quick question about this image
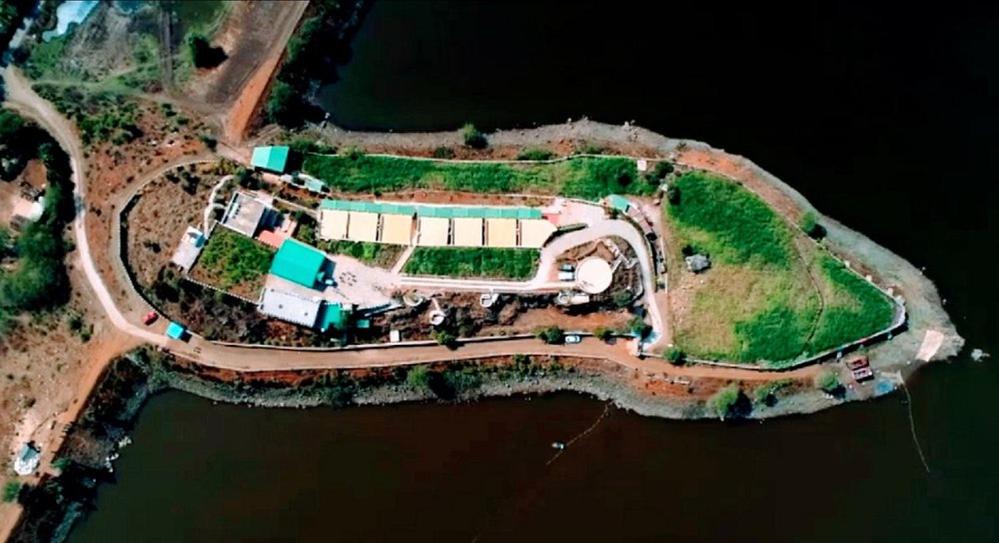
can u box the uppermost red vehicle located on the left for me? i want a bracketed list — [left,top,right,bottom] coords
[141,311,157,325]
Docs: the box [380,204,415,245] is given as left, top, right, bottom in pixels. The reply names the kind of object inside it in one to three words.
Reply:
house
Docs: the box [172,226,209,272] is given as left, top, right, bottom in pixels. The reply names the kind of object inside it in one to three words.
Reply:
shed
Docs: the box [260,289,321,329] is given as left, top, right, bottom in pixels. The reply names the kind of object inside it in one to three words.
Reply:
building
